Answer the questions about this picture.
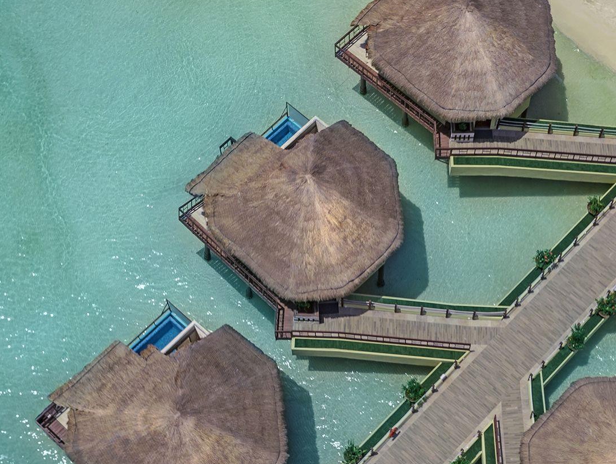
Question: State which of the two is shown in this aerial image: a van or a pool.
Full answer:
Of the two, only a pool appears.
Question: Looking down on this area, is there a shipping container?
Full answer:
No, no shipping container can be seen from above.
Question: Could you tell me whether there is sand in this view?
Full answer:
Yes, sand shows up in the scene.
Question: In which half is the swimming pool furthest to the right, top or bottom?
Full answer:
The top half of the photo is where the swimming pool furthest to the right is.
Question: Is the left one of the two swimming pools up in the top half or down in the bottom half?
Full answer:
It is in the bottom half that the left one of the two swimming pools appears.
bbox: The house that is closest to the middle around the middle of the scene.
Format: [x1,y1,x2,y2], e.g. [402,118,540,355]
[177,102,404,342]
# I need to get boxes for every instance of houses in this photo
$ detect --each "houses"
[516,379,616,464]
[36,294,290,464]
[337,0,557,162]
[177,102,404,342]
